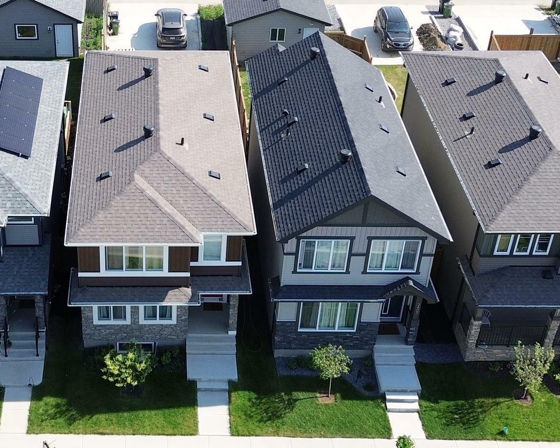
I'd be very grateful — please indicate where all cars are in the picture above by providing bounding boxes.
[370,2,416,48]
[155,9,189,46]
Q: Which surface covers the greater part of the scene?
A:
buildings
